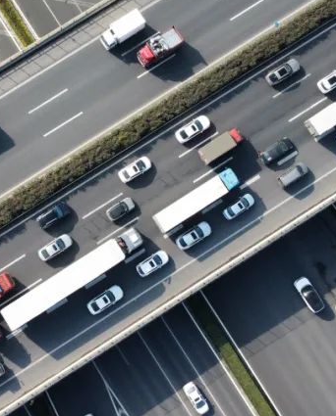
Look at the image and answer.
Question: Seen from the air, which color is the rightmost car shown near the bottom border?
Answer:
white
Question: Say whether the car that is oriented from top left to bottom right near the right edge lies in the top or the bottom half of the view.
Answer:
bottom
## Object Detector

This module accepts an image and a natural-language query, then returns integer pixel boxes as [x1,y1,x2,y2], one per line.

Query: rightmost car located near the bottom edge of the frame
[183,381,208,415]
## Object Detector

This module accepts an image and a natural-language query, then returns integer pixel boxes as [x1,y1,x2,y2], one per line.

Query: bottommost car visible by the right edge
[295,277,324,314]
